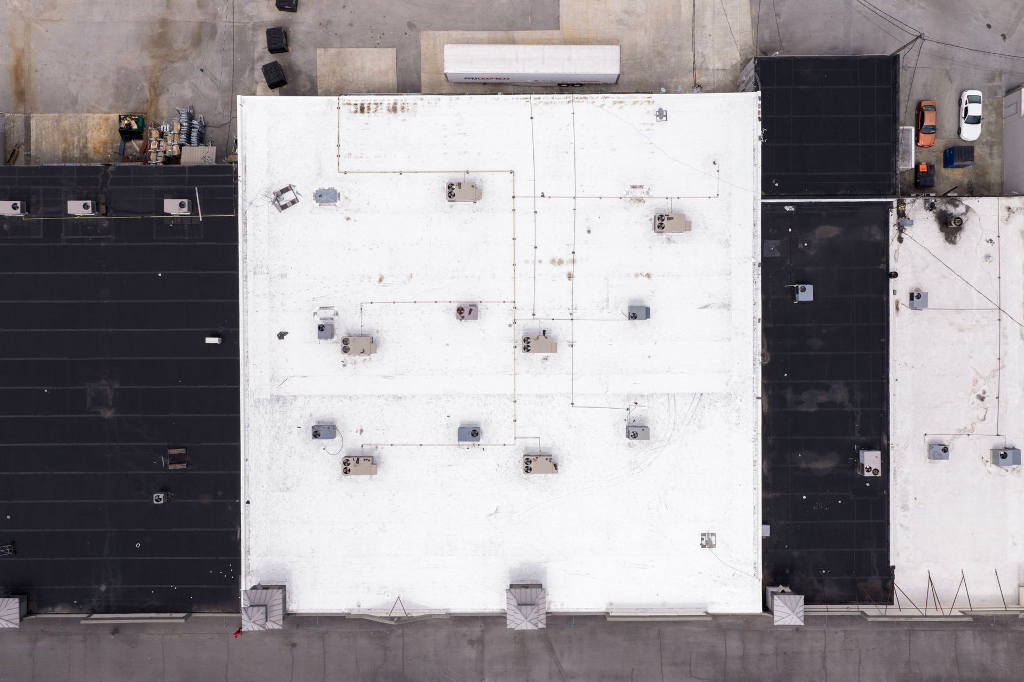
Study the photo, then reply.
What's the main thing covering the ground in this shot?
buildings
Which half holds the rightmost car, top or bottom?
top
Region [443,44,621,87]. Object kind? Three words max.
trailer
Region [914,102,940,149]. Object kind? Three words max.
car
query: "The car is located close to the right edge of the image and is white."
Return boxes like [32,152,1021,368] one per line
[955,91,984,142]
